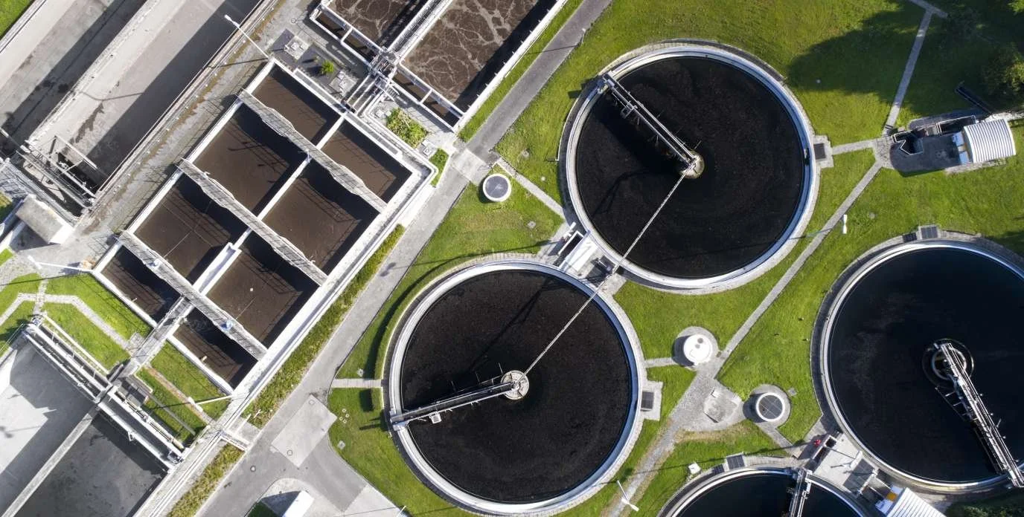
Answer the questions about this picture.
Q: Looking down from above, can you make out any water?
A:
Yes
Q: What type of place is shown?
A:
industrial area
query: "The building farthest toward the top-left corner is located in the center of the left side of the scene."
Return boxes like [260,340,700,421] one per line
[17,193,74,244]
